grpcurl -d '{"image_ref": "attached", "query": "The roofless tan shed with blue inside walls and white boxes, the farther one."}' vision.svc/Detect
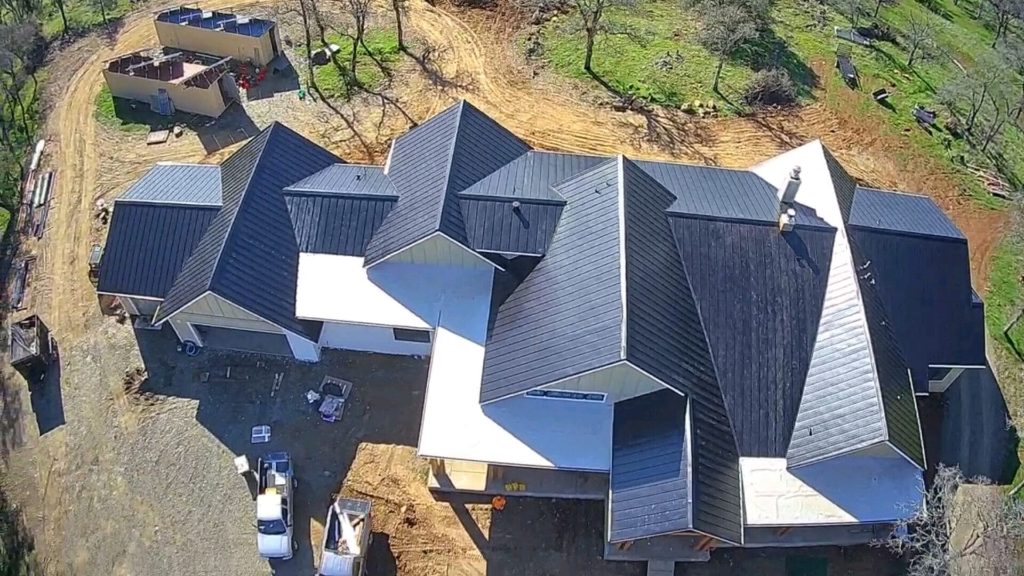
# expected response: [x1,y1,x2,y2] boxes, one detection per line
[153,2,283,64]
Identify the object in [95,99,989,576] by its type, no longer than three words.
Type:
house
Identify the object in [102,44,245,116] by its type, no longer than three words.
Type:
shed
